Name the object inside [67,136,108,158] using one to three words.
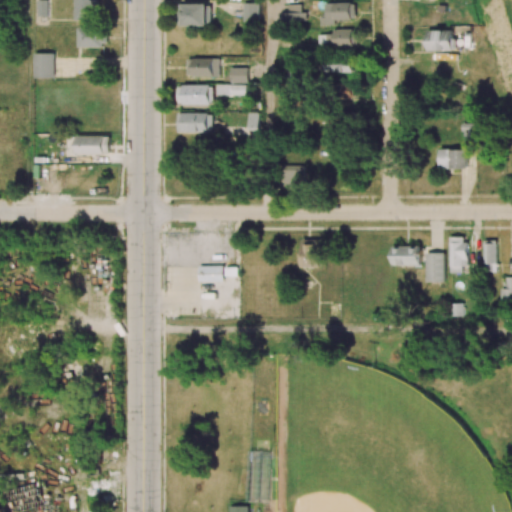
house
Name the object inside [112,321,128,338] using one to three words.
vehicle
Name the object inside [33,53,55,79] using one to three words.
building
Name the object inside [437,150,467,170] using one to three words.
house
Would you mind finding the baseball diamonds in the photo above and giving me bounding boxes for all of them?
[278,356,508,512]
